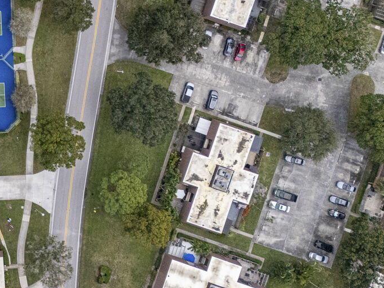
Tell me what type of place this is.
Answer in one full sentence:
It's a residential area.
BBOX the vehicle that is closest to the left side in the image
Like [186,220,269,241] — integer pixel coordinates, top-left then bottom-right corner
[181,81,194,103]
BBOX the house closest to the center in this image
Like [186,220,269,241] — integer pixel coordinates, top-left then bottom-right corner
[162,115,270,237]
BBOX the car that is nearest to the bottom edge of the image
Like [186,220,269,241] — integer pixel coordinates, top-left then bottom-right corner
[308,252,327,264]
